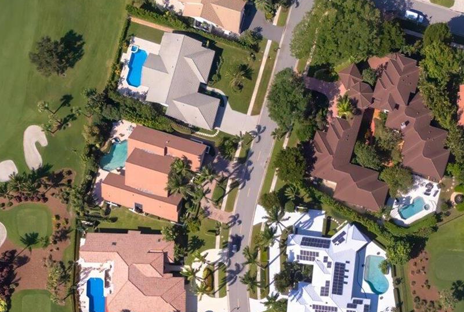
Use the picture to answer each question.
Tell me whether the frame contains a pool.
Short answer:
Yes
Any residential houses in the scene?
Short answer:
Yes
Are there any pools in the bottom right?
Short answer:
Yes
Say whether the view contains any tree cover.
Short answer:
Yes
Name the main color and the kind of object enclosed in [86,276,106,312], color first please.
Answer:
blue swimming pool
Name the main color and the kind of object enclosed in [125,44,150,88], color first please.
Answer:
blue swimming pool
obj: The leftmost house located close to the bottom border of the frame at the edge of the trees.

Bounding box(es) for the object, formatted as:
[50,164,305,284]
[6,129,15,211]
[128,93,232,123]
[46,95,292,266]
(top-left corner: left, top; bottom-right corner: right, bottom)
[75,233,187,312]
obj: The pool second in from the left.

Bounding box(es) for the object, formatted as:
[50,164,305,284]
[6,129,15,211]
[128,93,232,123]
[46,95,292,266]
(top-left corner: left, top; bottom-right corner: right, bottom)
[100,137,129,172]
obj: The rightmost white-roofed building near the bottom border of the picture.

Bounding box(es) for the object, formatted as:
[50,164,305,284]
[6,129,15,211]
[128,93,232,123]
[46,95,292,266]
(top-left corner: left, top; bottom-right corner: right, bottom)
[287,224,370,312]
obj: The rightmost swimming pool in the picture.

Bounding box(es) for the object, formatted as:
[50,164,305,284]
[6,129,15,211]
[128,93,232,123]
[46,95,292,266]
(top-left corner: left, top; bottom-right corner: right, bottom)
[397,195,432,220]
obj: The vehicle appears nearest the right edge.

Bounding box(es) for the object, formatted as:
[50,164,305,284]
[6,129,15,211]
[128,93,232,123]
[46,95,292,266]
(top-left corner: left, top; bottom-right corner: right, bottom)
[405,8,423,21]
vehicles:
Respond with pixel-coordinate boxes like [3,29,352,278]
[405,8,423,21]
[231,237,239,253]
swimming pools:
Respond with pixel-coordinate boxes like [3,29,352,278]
[125,44,150,88]
[100,137,129,172]
[397,195,432,220]
[363,254,390,296]
[86,276,106,312]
